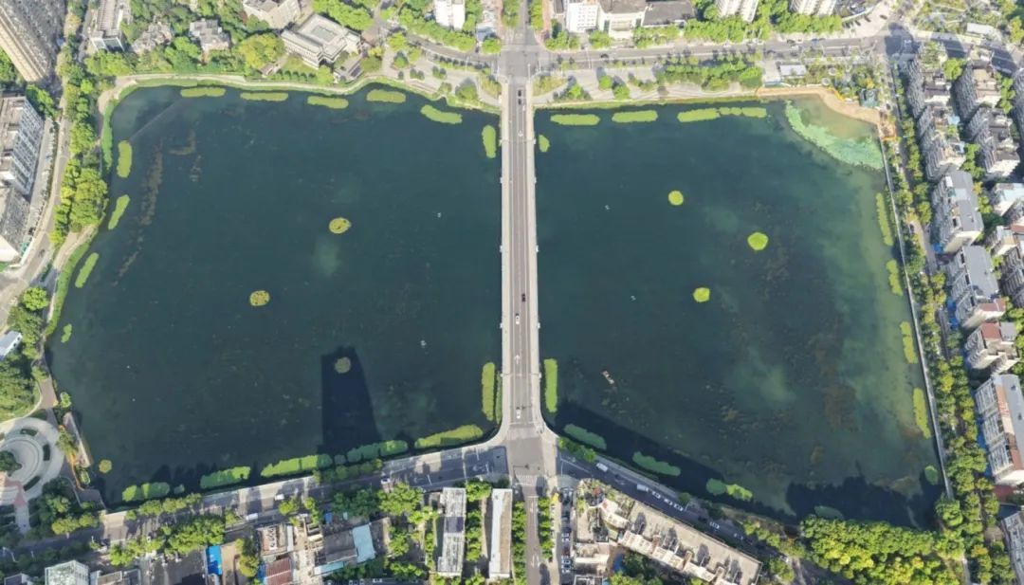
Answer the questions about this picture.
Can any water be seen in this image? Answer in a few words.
Yes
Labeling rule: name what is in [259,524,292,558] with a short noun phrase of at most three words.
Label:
house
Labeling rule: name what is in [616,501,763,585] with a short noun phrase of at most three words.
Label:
building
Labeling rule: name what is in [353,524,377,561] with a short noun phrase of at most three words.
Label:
shed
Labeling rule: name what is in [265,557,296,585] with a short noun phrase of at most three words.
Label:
building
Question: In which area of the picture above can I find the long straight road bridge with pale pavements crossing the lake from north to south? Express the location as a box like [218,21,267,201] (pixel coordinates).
[500,84,542,412]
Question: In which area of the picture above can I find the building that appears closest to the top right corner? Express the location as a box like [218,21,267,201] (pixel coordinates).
[963,23,994,39]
